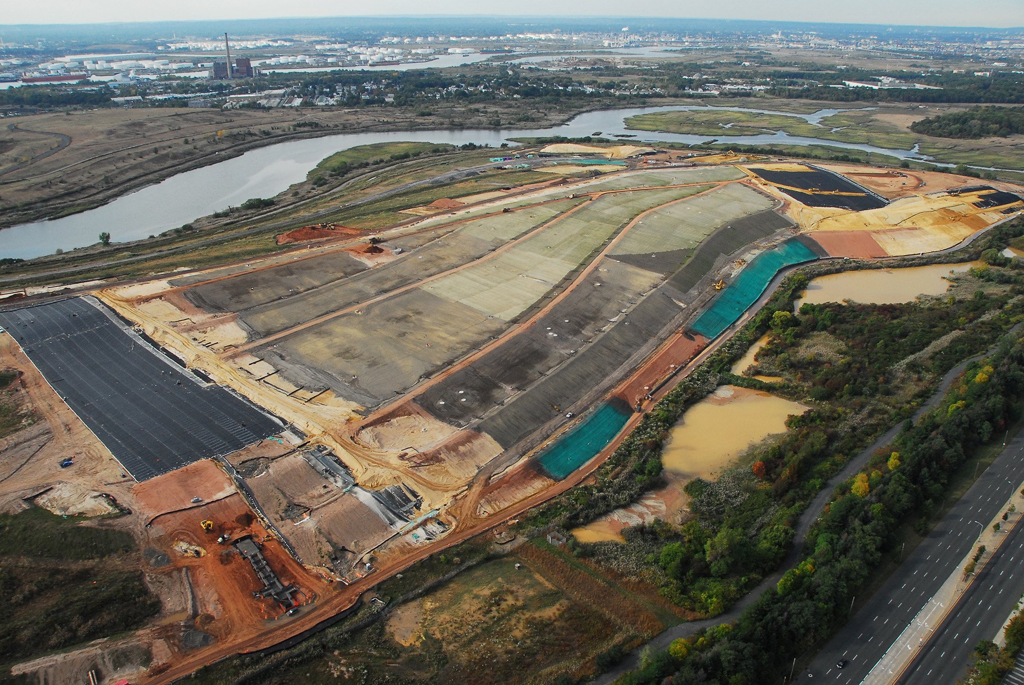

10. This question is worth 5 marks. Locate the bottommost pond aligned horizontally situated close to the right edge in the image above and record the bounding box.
[795,261,988,305]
